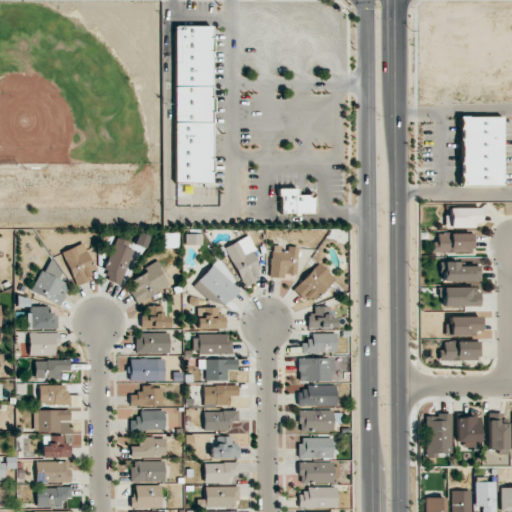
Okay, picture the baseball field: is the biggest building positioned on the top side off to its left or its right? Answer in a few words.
on the right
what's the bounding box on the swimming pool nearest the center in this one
[212,232,231,244]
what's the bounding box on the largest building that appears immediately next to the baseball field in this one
[177,24,215,183]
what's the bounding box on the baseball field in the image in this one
[0,3,150,166]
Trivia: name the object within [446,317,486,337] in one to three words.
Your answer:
house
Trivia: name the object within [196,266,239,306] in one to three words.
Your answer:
house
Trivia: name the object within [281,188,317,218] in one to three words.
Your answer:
building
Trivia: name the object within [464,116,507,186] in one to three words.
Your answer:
building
